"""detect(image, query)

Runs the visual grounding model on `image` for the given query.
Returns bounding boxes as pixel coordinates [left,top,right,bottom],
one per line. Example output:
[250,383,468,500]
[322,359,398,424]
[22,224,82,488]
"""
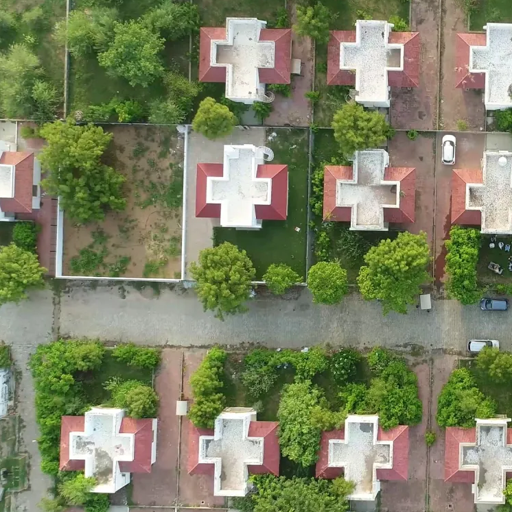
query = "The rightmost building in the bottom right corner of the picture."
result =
[443,414,512,501]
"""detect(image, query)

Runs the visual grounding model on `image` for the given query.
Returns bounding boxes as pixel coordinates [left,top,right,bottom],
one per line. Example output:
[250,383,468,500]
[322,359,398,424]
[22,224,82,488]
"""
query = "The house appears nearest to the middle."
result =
[194,145,290,231]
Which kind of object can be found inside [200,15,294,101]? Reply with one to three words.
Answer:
house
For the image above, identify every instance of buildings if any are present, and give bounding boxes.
[323,148,416,234]
[451,152,512,237]
[187,409,282,496]
[60,404,158,492]
[200,15,294,101]
[0,138,43,220]
[443,414,512,501]
[194,145,290,231]
[316,411,409,499]
[455,21,512,106]
[327,18,421,104]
